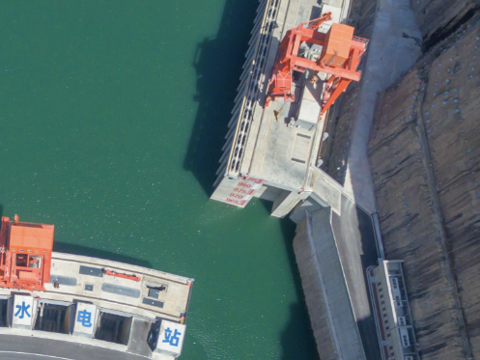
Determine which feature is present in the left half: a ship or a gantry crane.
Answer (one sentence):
There is a gantry crane in the left half.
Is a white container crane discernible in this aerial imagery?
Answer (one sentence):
No, there is no white container crane in the image.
